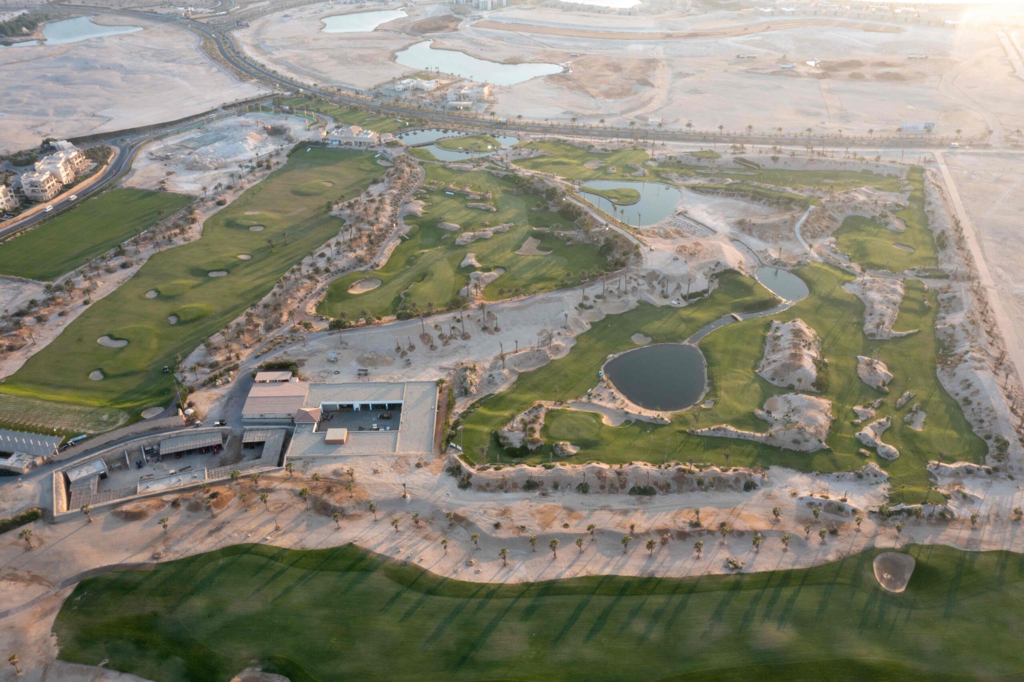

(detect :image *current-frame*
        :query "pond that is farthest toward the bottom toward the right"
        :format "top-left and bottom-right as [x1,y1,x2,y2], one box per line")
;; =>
[604,343,706,411]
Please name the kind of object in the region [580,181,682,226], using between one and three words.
pond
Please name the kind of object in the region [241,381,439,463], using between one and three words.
building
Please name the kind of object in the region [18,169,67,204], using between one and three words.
house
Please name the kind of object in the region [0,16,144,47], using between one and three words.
pond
